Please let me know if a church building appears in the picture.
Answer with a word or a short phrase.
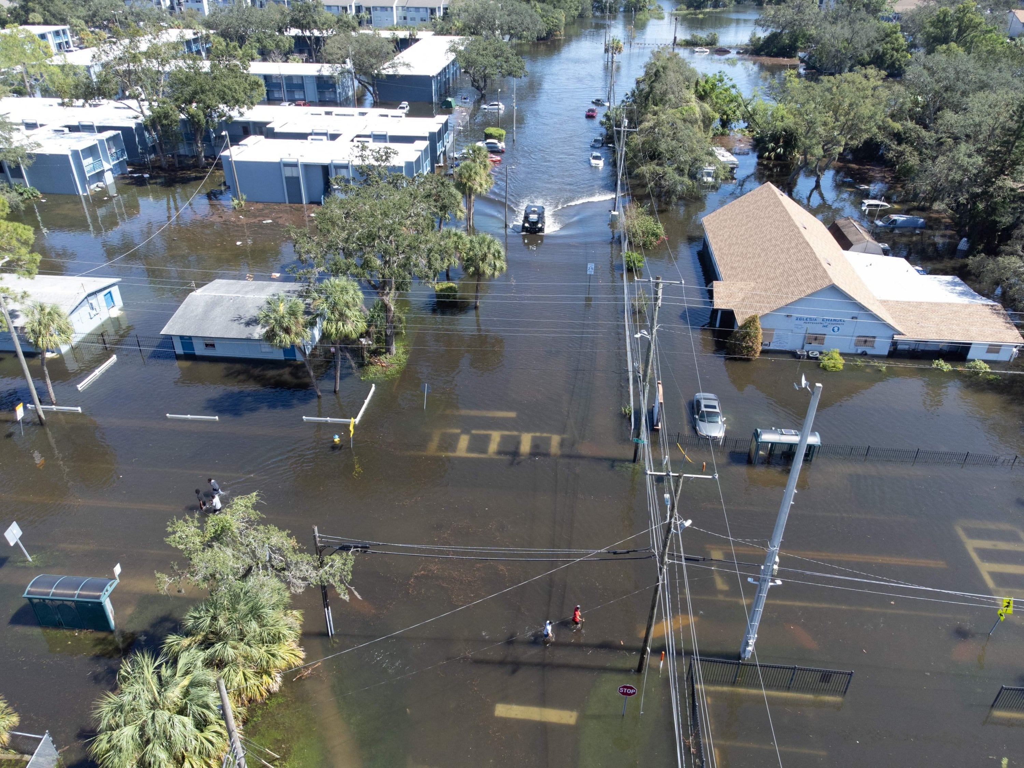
Yes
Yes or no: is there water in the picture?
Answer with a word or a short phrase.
Yes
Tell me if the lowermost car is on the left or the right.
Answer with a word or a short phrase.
right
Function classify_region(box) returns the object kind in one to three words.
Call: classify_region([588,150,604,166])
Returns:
car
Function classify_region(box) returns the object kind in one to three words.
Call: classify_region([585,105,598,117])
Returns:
vehicle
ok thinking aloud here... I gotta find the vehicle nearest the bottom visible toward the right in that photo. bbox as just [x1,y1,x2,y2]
[692,395,728,442]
